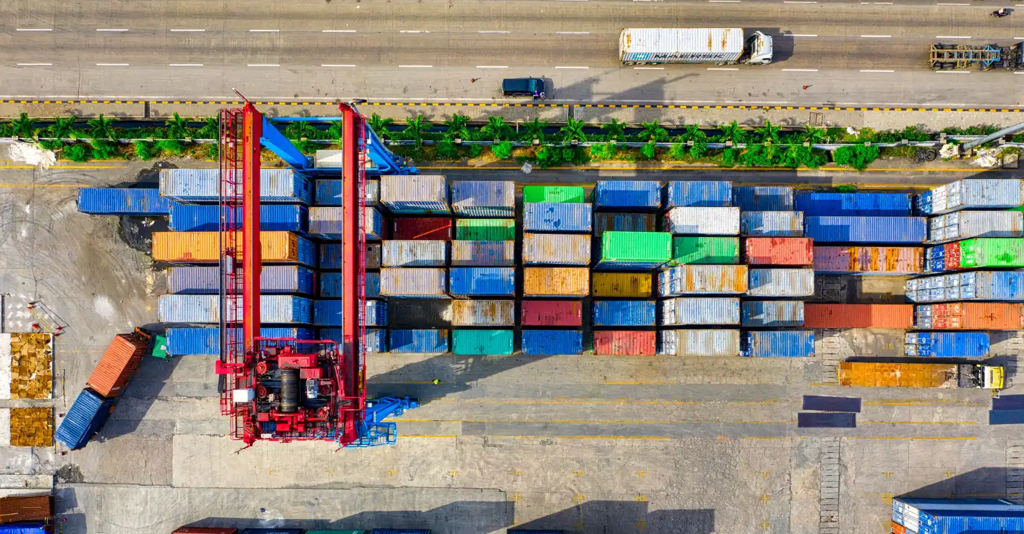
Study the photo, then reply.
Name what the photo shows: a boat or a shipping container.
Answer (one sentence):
Looking from above, you can make out a shipping container.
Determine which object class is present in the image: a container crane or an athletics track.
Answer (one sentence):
Looking from above, you can make out a container crane.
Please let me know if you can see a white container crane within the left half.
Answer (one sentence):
No, no white container crane can be made out within the left half.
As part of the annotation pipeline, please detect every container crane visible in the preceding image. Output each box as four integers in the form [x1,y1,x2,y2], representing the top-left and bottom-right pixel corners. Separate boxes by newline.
[216,88,429,457]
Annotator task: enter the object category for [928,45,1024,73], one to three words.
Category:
truck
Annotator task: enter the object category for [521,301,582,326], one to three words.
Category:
shipping container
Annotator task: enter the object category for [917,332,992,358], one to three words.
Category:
shipping container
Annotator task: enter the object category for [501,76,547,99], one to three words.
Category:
vehicle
